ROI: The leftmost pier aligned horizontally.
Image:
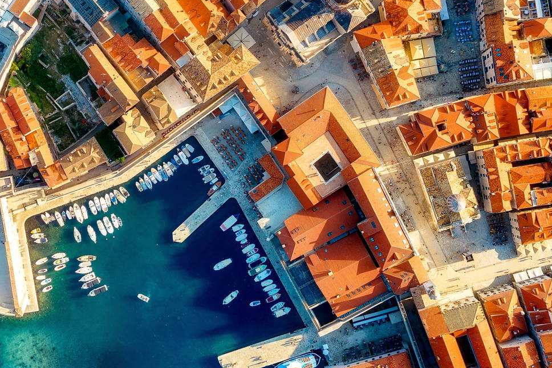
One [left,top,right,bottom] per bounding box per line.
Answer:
[217,327,310,368]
